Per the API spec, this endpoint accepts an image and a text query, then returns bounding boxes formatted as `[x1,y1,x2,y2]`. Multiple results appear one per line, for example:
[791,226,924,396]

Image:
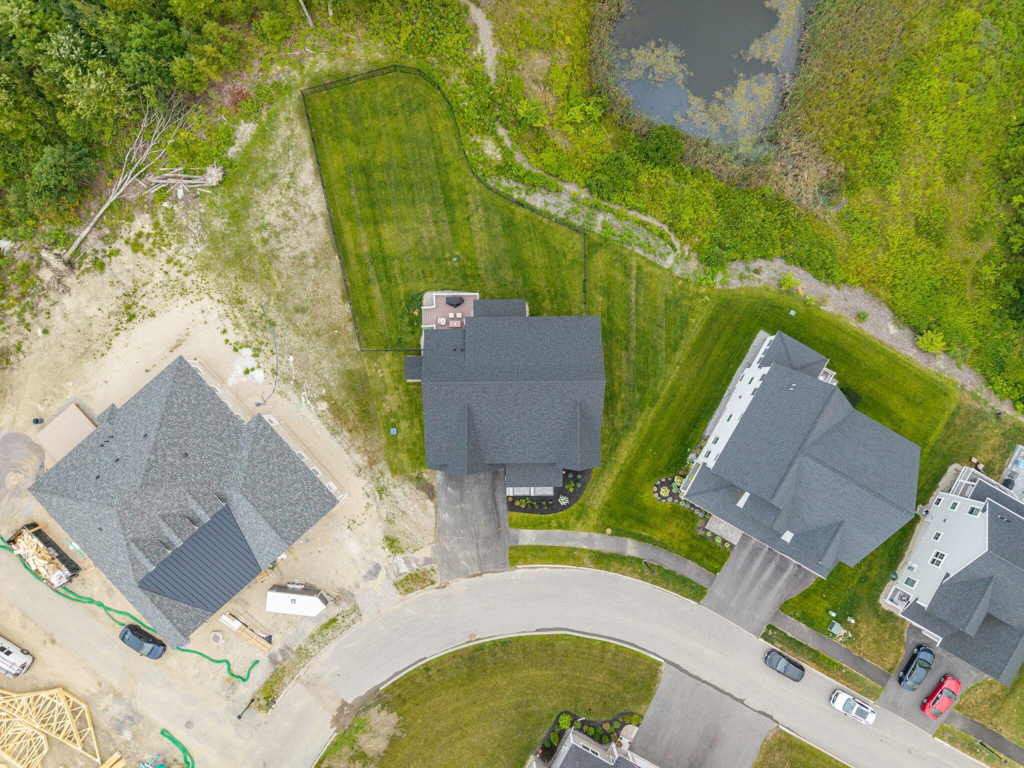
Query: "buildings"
[404,299,606,487]
[678,330,921,580]
[866,481,1024,692]
[30,355,343,649]
[550,720,658,768]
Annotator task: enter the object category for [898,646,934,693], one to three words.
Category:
car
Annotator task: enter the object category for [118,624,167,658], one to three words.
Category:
car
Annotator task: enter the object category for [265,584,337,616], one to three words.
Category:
trailer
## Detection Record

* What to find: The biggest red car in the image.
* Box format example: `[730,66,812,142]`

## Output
[922,675,960,721]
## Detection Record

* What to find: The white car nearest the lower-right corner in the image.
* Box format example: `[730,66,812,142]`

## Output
[829,691,879,728]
